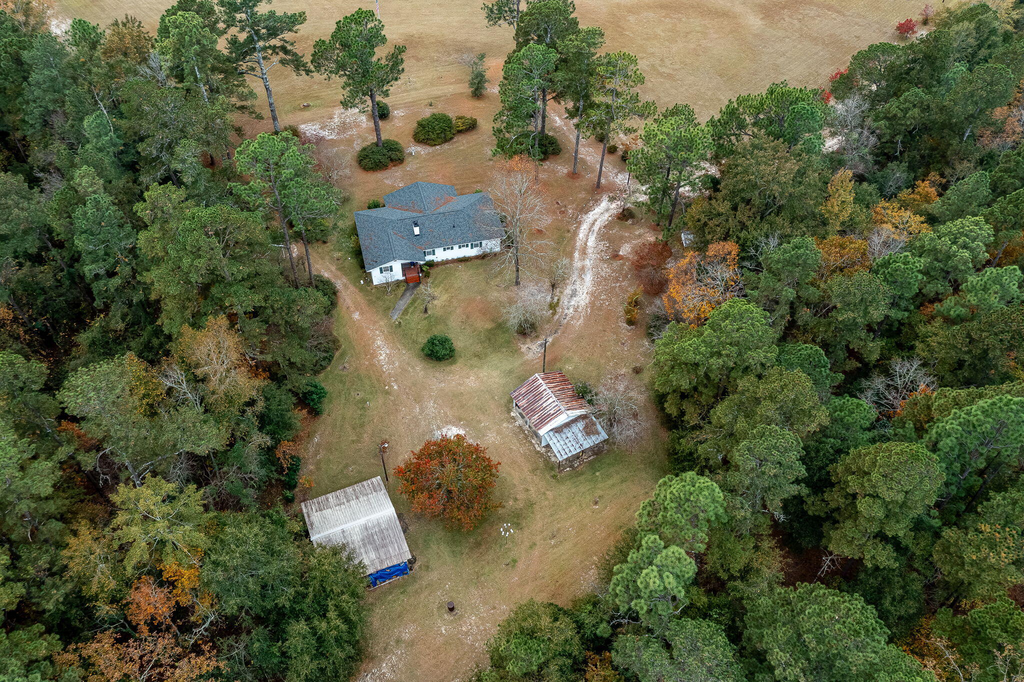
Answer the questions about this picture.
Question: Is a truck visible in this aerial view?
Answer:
No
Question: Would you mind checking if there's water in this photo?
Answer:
No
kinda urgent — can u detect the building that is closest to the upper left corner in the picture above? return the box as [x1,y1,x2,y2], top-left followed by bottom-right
[354,183,507,284]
